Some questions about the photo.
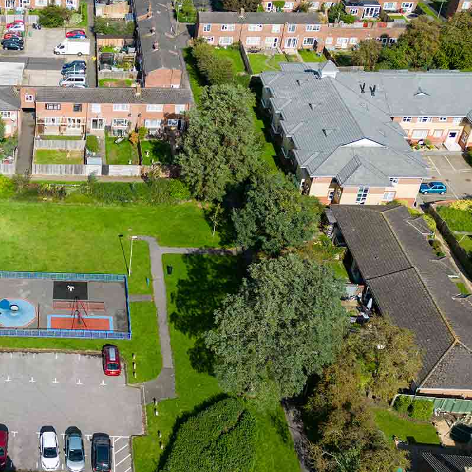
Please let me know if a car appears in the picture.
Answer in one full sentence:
Yes, a car is visible in the scene.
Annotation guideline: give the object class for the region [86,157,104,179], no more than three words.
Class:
shed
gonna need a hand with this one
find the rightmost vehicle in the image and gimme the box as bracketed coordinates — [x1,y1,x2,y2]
[421,180,451,196]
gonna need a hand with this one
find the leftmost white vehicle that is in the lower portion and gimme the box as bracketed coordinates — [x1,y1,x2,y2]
[38,429,60,471]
